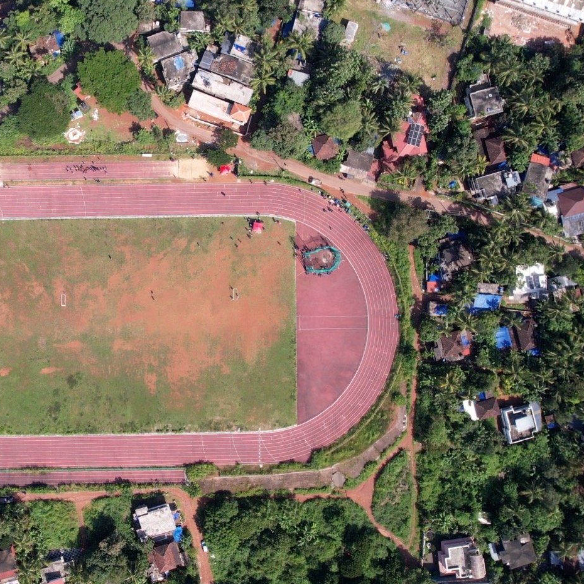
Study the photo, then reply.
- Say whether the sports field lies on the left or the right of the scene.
left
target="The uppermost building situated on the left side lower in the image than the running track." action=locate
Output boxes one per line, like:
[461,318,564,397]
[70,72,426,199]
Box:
[137,499,177,543]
